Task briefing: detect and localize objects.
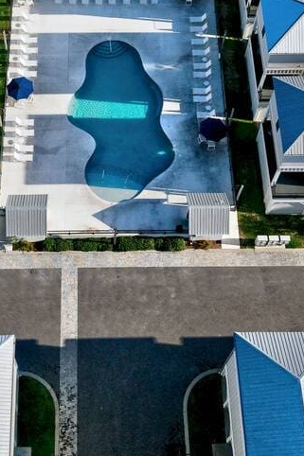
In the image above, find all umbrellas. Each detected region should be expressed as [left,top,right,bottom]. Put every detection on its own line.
[7,77,32,101]
[199,117,226,141]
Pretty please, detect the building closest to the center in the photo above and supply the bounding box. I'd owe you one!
[183,192,231,248]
